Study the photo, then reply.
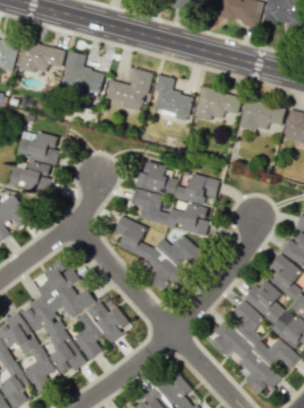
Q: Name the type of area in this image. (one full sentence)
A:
What you see here is a residential area.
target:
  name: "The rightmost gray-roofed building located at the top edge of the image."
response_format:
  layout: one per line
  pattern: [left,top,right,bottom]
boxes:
[262,0,301,30]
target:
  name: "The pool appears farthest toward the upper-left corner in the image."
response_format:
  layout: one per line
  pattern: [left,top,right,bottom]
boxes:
[22,77,44,90]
